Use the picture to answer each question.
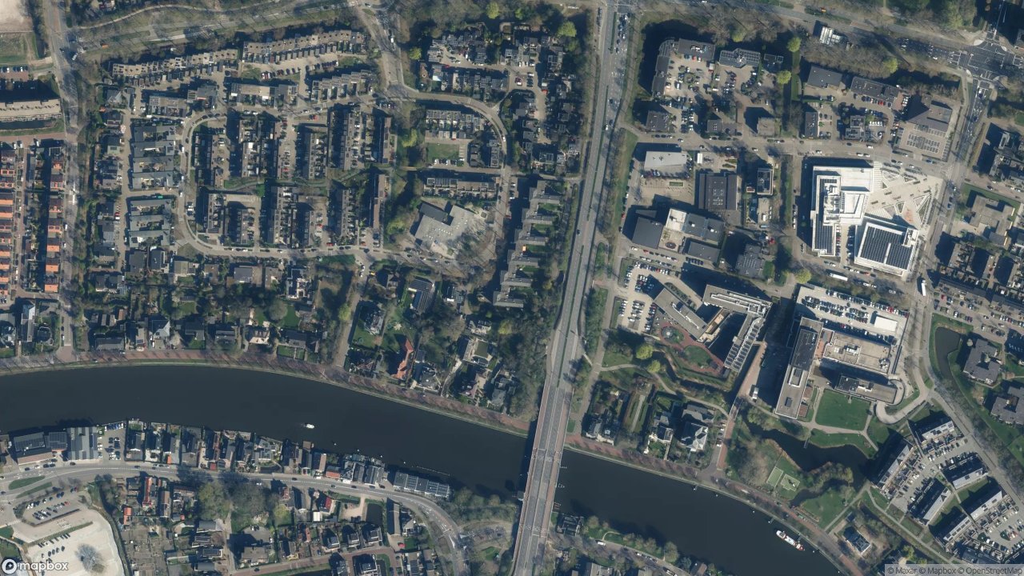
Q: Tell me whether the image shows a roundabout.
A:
No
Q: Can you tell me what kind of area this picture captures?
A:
residential area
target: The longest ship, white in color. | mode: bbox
[776,530,804,550]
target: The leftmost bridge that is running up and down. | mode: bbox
[507,286,586,576]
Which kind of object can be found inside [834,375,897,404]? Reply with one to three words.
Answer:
building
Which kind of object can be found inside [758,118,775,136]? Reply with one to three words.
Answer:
building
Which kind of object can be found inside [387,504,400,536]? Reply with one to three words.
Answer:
barn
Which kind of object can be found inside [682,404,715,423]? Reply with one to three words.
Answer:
house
